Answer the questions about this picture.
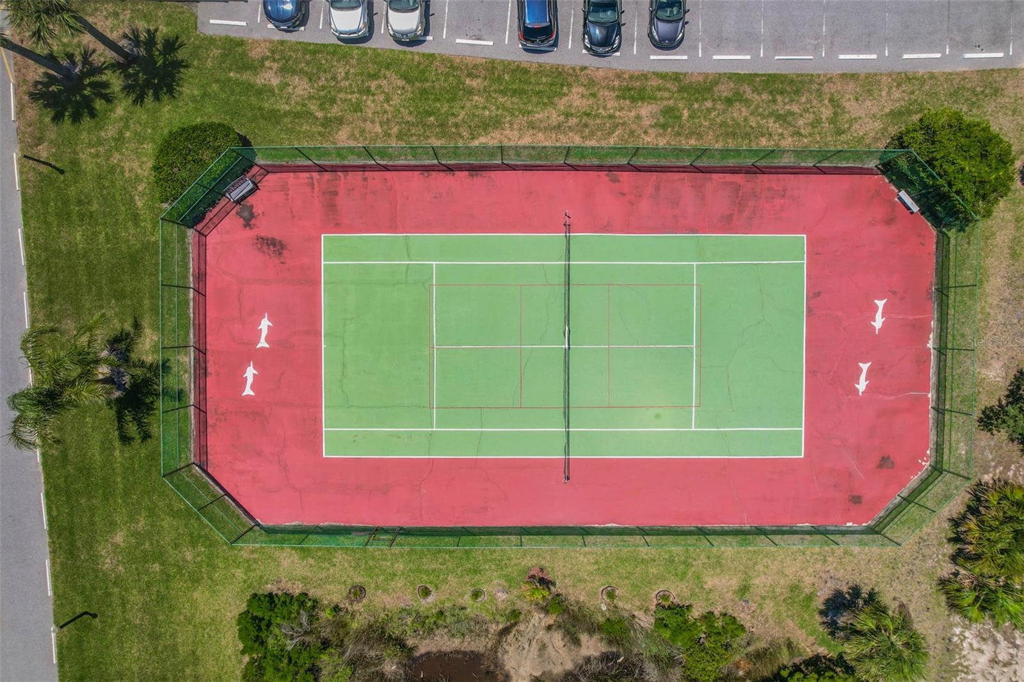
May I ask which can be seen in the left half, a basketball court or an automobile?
automobile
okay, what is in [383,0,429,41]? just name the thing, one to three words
car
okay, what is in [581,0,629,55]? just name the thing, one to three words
car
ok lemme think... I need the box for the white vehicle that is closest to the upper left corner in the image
[328,0,371,39]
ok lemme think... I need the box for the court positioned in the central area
[189,159,939,531]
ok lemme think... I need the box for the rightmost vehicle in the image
[647,0,692,48]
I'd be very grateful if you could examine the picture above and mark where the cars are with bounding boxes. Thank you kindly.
[328,0,371,39]
[263,0,305,29]
[383,0,429,41]
[647,0,692,48]
[581,0,629,55]
[519,0,559,49]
